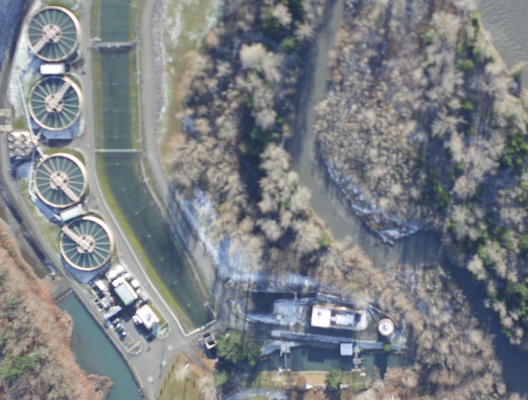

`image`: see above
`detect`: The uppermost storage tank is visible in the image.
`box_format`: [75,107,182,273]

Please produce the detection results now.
[26,6,82,62]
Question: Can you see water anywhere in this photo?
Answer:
Yes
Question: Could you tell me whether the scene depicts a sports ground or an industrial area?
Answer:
industrial area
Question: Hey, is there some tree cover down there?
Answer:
Yes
